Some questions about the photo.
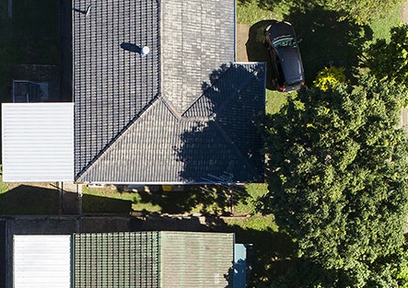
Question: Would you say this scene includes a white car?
No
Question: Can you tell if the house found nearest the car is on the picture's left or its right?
left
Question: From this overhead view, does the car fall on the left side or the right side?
right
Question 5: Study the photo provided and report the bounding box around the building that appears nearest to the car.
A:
[1,0,268,196]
